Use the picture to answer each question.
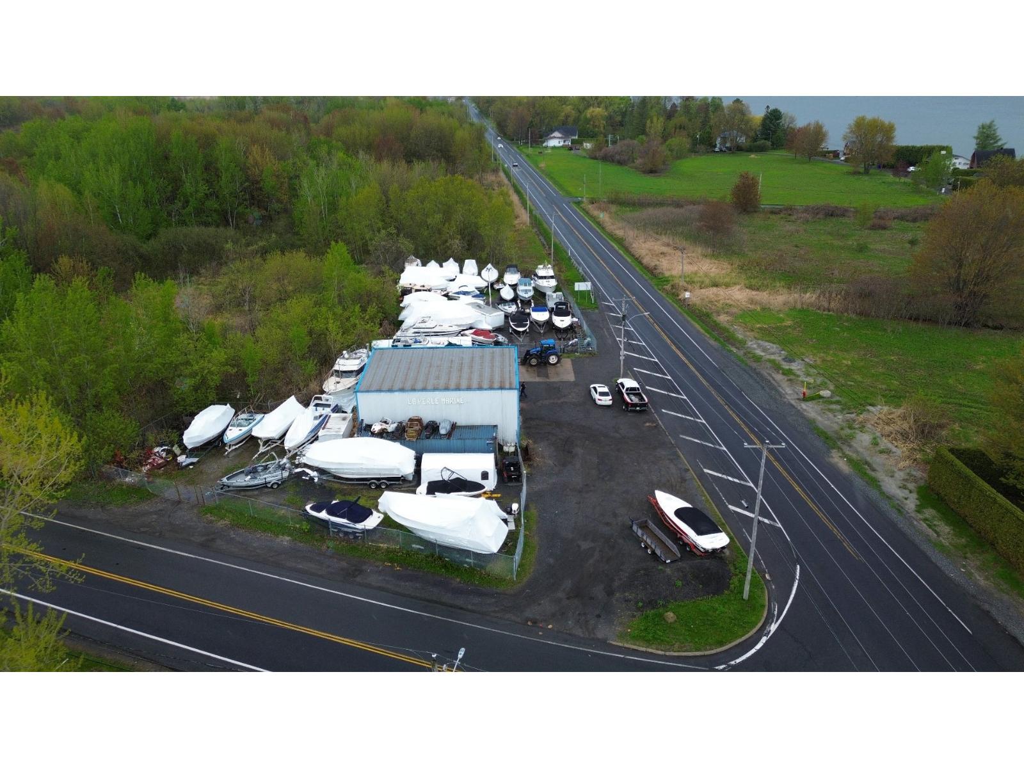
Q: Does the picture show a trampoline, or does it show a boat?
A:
boat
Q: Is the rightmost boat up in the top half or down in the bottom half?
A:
bottom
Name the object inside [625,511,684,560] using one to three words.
trailer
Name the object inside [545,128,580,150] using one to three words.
house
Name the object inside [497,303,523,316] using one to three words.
boat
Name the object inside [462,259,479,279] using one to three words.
boat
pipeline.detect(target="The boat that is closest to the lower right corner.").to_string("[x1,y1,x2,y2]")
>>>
[655,491,731,562]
